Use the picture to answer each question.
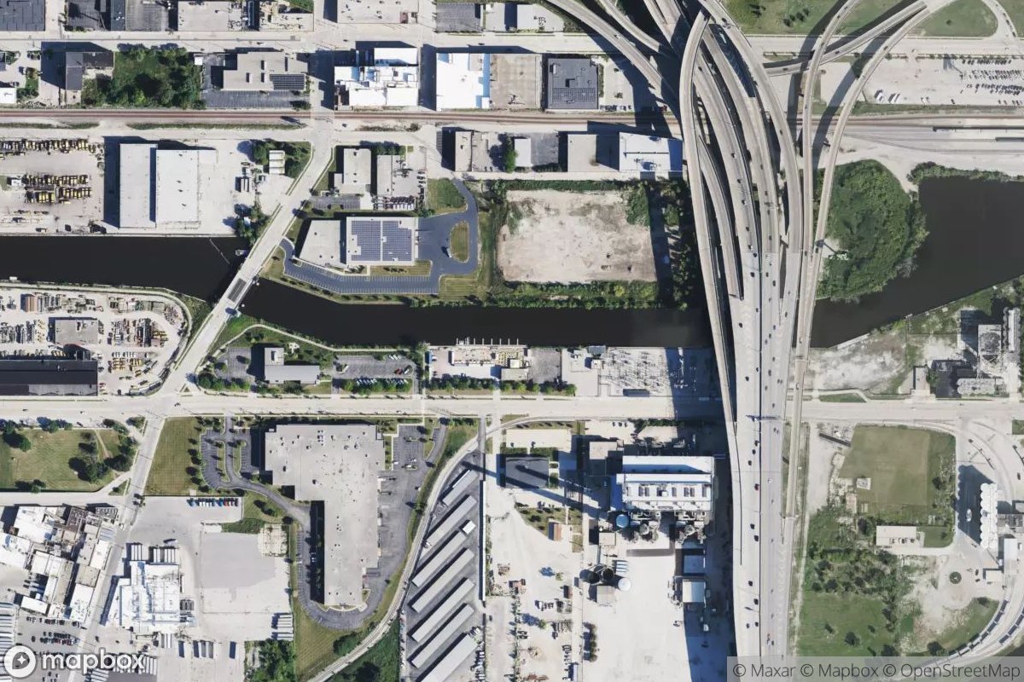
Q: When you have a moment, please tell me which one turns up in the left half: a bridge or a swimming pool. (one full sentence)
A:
It is a bridge that can be seen in the left half.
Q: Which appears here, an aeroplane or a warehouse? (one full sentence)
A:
This aerial view contains a warehouse.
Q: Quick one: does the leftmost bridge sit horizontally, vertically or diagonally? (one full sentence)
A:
The leftmost bridge has been laid out diagonally relative to the frame.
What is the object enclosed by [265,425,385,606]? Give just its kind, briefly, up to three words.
warehouse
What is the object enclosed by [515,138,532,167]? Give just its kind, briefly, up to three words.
house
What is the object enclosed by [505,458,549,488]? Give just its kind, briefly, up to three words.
building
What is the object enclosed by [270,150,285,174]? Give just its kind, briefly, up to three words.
shed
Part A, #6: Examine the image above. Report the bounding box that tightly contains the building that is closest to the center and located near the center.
[502,359,528,382]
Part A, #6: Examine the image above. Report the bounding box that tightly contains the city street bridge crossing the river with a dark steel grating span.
[212,246,272,320]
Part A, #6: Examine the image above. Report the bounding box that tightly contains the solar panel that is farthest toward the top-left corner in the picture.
[270,74,304,89]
